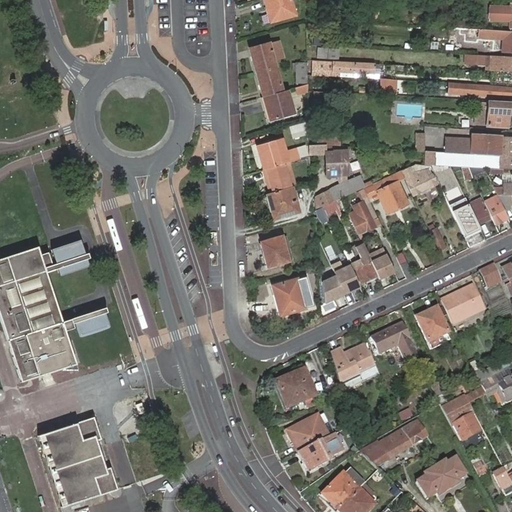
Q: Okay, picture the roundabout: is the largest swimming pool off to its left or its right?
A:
right of it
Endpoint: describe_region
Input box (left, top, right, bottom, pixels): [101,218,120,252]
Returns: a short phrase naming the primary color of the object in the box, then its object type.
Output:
white vehicle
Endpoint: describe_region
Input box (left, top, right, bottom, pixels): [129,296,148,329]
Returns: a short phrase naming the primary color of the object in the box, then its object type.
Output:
white vehicle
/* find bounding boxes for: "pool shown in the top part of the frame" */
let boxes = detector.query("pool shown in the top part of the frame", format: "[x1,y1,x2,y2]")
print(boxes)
[391,102,425,124]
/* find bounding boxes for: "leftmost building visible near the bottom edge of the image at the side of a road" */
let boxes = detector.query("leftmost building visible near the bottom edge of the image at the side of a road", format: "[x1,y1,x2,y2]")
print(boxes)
[40,416,118,511]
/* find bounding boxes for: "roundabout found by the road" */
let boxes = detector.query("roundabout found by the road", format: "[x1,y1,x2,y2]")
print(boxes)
[76,58,194,176]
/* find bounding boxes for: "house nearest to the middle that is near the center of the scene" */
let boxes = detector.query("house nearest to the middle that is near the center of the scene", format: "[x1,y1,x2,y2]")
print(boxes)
[260,235,292,270]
